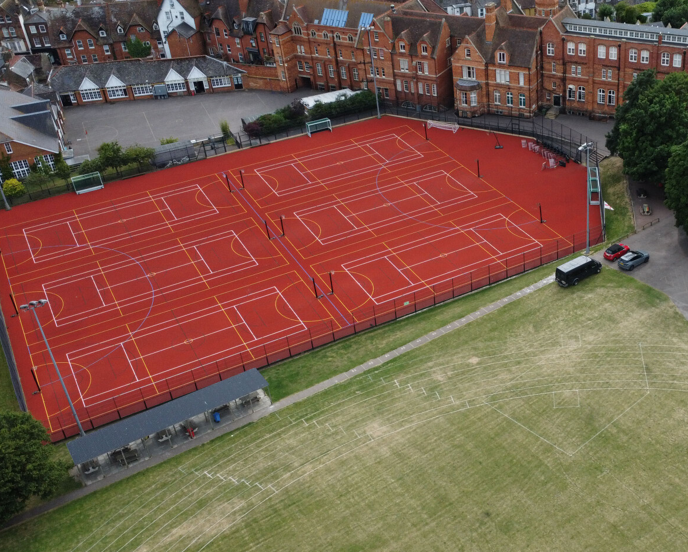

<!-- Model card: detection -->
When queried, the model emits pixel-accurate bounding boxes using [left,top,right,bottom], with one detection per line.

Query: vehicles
[602,242,631,261]
[617,249,652,269]
[552,252,599,283]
